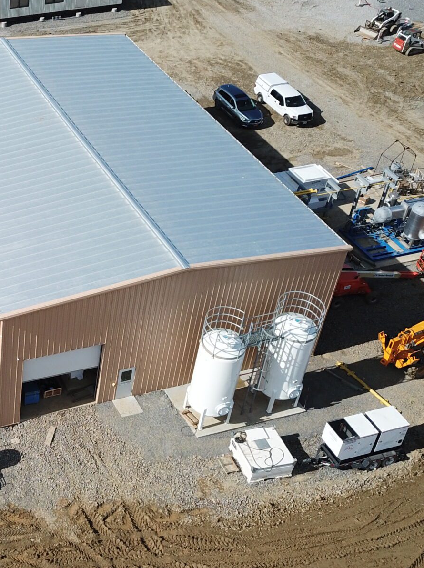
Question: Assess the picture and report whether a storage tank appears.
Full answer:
Yes, there's a storage tank down there.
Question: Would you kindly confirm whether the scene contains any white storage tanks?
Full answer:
Yes, the photo shows a white storage tank.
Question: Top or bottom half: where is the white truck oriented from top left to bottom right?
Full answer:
You can find the white truck oriented from top left to bottom right in the top half.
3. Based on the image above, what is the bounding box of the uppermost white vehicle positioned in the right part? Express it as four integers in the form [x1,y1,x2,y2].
[254,73,320,129]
